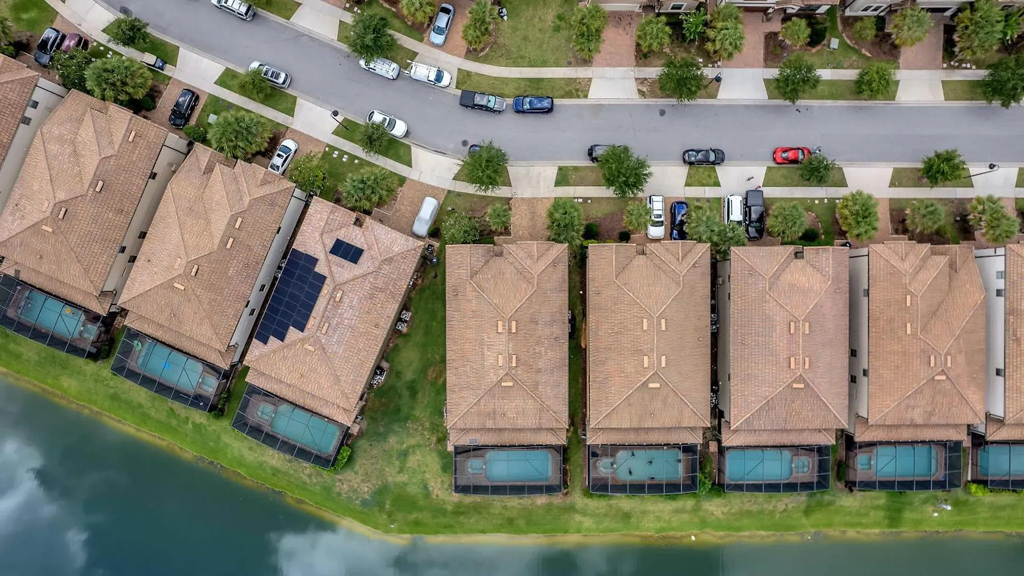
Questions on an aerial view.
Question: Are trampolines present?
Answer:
No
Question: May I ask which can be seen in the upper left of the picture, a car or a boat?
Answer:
car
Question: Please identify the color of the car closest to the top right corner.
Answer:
red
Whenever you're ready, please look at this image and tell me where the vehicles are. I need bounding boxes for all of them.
[170,86,200,130]
[34,23,67,68]
[138,48,169,71]
[61,25,91,58]
[459,90,506,114]
[211,0,257,25]
[744,189,765,239]
[358,56,402,84]
[249,60,294,92]
[772,145,812,165]
[682,146,724,166]
[669,201,687,239]
[430,2,455,47]
[268,137,298,177]
[365,109,410,140]
[402,55,454,88]
[723,195,745,226]
[513,94,553,115]
[646,195,667,239]
[586,144,619,163]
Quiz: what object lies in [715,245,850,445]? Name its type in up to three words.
house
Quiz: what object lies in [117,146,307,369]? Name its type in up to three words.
house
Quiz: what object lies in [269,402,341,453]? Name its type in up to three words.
swimming pool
